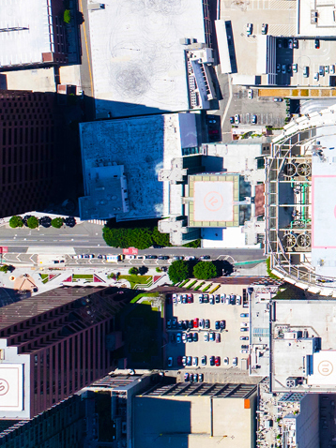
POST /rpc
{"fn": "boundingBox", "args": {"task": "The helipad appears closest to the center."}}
[194,181,233,221]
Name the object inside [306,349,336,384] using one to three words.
helipad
